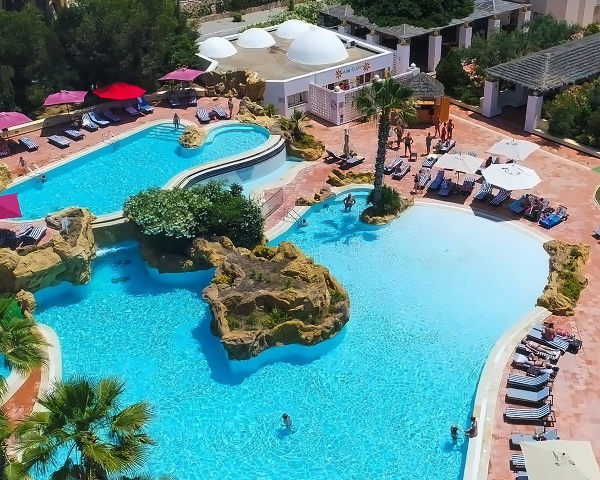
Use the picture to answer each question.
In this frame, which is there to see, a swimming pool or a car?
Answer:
swimming pool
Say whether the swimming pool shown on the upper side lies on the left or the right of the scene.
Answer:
left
